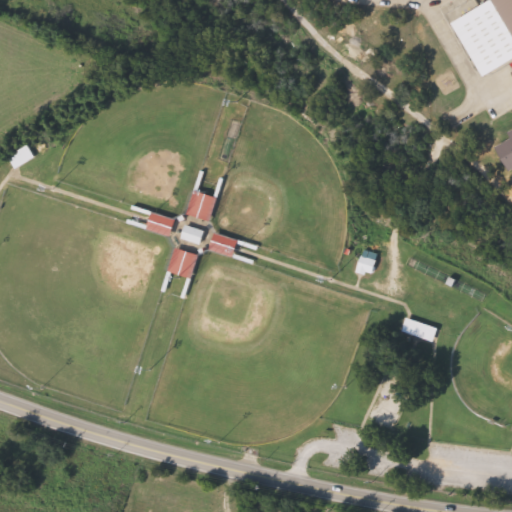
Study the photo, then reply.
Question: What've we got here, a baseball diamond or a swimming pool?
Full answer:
Visible in the photo is a baseball diamond.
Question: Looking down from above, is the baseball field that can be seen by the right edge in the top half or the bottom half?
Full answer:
Seen from above, the baseball field that can be seen by the right edge lies in the bottom half of the view.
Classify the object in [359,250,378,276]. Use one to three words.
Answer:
building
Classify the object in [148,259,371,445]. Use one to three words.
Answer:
baseball field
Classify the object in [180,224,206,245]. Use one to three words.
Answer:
building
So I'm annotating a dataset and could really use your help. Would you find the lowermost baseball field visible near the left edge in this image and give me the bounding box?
[0,184,168,413]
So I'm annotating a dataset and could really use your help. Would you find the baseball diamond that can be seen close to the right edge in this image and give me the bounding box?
[452,310,512,426]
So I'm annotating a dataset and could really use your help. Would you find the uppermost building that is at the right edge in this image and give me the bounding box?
[451,0,512,76]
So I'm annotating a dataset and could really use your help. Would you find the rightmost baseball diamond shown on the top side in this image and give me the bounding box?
[214,101,346,272]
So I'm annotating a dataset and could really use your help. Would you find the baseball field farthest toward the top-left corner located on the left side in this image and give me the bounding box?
[58,84,226,214]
